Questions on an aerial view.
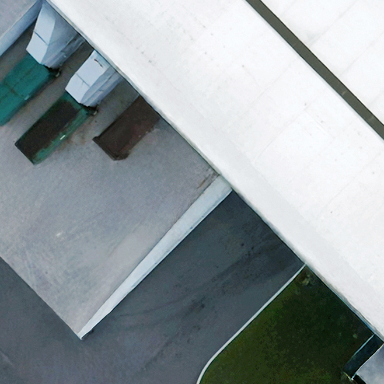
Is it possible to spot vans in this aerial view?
No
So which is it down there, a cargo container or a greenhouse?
cargo container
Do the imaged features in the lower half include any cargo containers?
No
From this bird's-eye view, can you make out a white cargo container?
No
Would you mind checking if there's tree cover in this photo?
No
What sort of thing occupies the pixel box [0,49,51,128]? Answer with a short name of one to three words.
shipping container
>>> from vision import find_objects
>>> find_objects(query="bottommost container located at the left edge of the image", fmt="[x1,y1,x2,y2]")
[13,90,92,165]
